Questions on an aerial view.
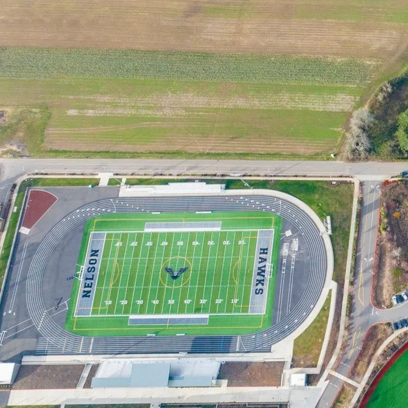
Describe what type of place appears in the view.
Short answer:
sports ground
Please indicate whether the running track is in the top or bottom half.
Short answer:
bottom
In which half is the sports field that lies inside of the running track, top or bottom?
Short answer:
bottom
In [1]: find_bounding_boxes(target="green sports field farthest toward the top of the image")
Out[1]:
[65,211,283,336]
